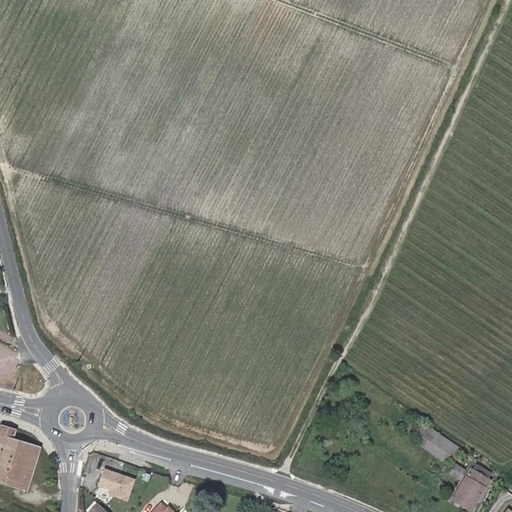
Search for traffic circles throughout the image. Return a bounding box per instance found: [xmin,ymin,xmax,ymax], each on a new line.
[36,362,108,455]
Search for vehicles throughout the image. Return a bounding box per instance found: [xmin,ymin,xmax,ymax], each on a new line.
[51,428,62,436]
[68,451,74,462]
[89,412,95,423]
[144,503,152,512]
[174,470,180,482]
[1,408,12,413]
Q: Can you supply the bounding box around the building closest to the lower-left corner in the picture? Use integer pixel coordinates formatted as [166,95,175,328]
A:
[0,426,42,491]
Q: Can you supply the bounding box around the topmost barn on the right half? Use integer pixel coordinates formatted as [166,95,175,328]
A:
[419,426,460,462]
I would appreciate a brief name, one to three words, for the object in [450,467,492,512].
house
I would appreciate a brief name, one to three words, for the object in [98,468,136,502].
house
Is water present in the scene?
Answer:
No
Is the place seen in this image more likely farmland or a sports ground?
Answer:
farmland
